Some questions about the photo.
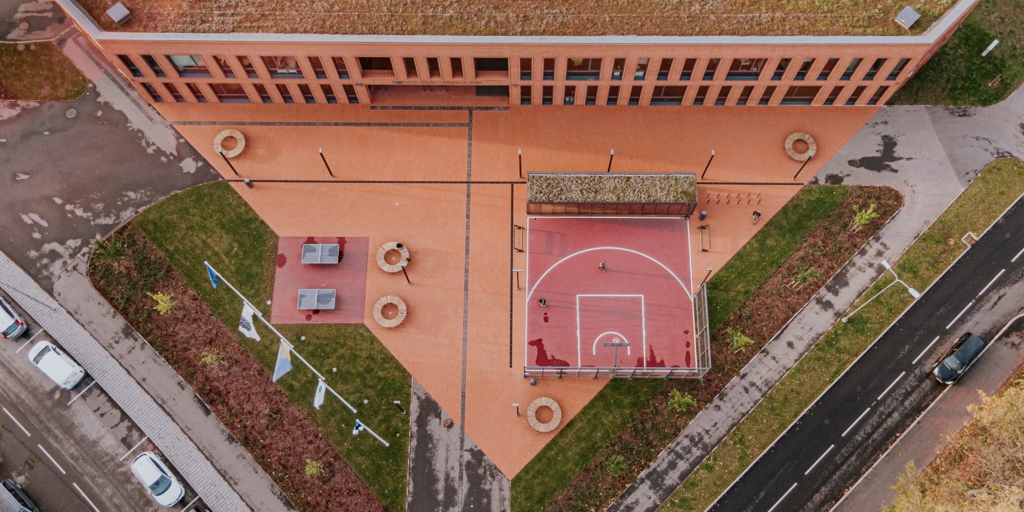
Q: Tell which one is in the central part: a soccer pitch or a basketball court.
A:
basketball court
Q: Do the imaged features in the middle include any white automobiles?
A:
No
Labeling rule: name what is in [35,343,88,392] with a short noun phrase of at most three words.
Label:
vehicle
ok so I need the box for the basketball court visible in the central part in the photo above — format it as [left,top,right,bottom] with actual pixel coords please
[525,216,700,377]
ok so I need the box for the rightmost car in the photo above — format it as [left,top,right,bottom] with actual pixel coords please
[930,329,987,384]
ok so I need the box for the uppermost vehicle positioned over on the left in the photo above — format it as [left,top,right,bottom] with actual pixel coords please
[0,292,25,337]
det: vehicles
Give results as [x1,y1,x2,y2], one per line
[0,478,47,512]
[133,452,186,506]
[35,343,88,392]
[930,329,987,384]
[0,292,25,337]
